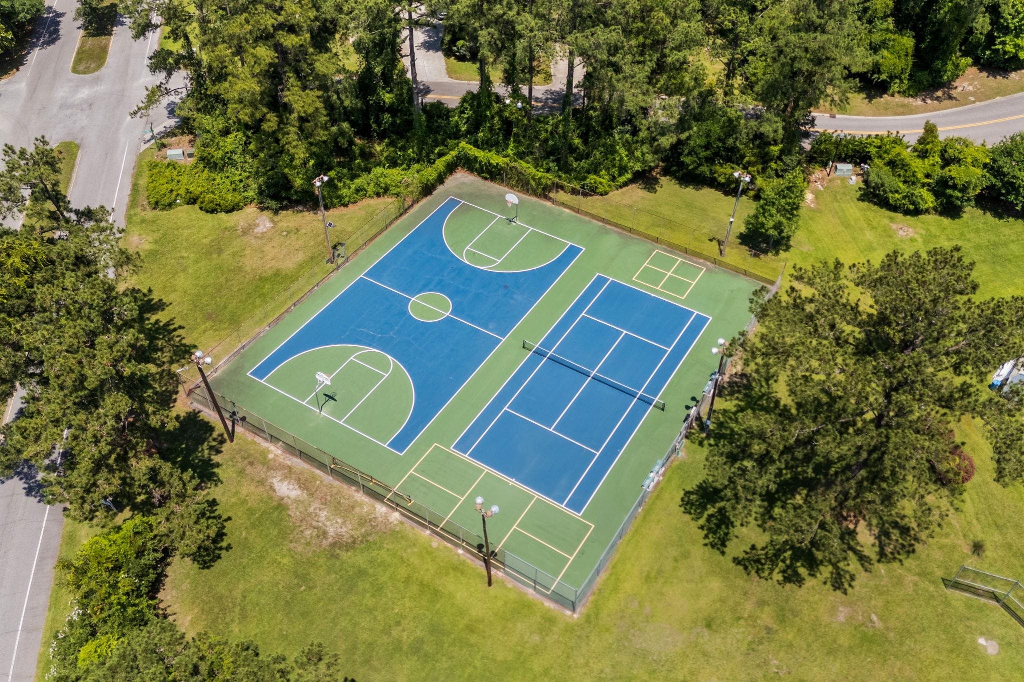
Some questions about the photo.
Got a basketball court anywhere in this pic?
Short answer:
Yes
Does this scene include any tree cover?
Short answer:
Yes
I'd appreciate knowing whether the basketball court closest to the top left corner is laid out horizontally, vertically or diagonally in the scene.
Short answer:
diagonally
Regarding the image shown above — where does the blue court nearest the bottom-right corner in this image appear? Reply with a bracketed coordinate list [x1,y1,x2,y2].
[451,273,710,515]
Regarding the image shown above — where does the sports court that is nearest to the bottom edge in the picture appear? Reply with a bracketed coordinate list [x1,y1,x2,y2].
[386,443,594,592]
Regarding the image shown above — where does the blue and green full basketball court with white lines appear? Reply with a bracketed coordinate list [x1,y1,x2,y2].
[248,197,585,455]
